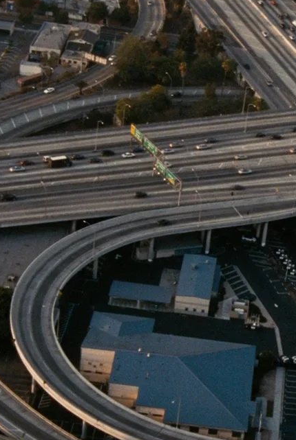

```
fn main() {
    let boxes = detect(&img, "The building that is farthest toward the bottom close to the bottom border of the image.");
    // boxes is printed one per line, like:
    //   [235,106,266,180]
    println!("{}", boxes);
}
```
[81,312,263,440]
